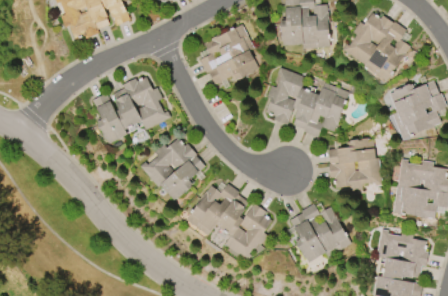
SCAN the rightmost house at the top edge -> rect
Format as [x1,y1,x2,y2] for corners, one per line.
[342,10,416,86]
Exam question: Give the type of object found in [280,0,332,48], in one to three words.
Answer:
house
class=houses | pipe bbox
[328,138,382,190]
[198,20,260,88]
[342,10,416,86]
[390,78,448,141]
[264,64,350,136]
[280,0,332,48]
[394,160,448,217]
[375,232,430,296]
[138,136,207,204]
[183,181,275,266]
[56,0,132,42]
[289,202,356,262]
[92,74,174,146]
